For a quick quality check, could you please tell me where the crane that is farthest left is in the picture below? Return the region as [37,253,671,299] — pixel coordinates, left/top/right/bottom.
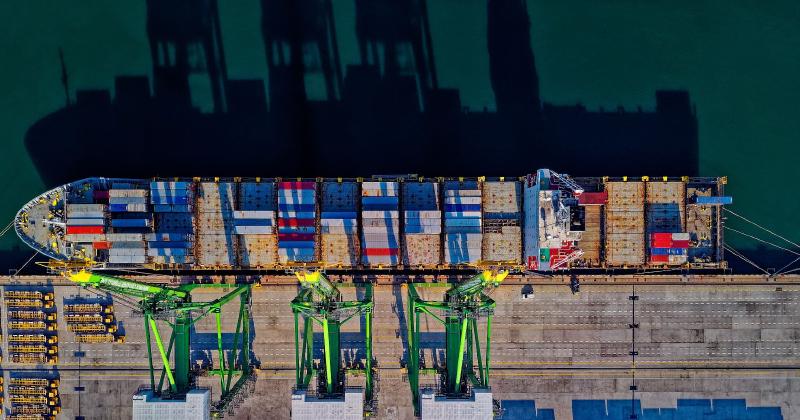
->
[44,258,260,420]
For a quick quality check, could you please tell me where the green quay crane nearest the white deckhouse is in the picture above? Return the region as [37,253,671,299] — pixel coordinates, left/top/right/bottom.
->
[395,258,531,420]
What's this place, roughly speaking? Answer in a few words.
port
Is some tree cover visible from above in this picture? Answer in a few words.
No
